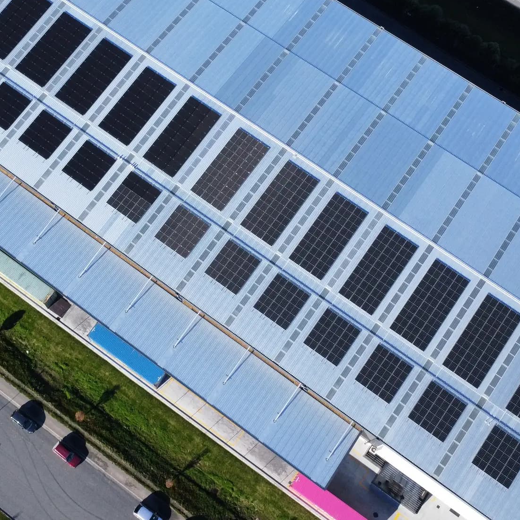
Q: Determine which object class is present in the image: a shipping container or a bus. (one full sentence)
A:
Of the two, only a shipping container appears.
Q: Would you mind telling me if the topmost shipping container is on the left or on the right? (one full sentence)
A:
It is on the left.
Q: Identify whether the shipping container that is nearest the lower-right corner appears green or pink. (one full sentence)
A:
The shipping container that is nearest the lower-right corner is pink.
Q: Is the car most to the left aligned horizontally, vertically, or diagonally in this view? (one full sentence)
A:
The car most to the left has been laid out diagonally relative to the frame.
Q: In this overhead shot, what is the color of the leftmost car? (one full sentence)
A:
The color of the leftmost car is black.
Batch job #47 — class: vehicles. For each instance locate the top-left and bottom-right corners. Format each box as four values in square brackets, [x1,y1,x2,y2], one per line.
[13,407,44,435]
[52,441,82,469]
[133,502,163,520]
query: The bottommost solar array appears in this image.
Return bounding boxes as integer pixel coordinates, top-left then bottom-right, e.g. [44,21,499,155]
[473,425,520,490]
